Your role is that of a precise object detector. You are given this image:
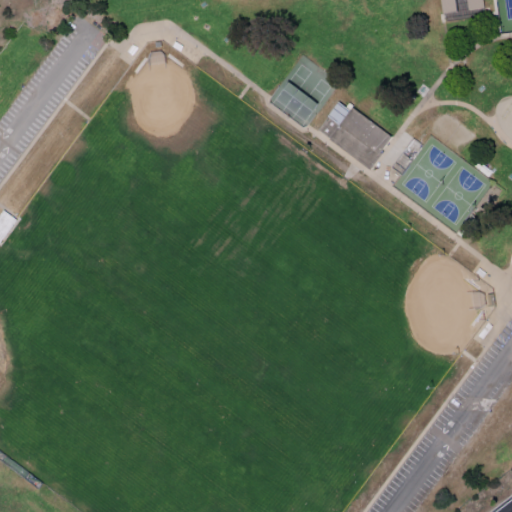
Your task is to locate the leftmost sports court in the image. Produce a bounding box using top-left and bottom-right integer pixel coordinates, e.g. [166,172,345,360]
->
[271,56,335,126]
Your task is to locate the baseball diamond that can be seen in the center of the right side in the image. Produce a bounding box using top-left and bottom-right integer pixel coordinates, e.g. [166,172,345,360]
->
[406,254,488,354]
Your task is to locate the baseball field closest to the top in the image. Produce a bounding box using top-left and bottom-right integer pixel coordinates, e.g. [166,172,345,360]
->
[127,51,195,137]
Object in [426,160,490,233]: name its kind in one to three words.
basketball court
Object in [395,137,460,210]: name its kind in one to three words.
basketball court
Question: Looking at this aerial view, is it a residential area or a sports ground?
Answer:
sports ground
